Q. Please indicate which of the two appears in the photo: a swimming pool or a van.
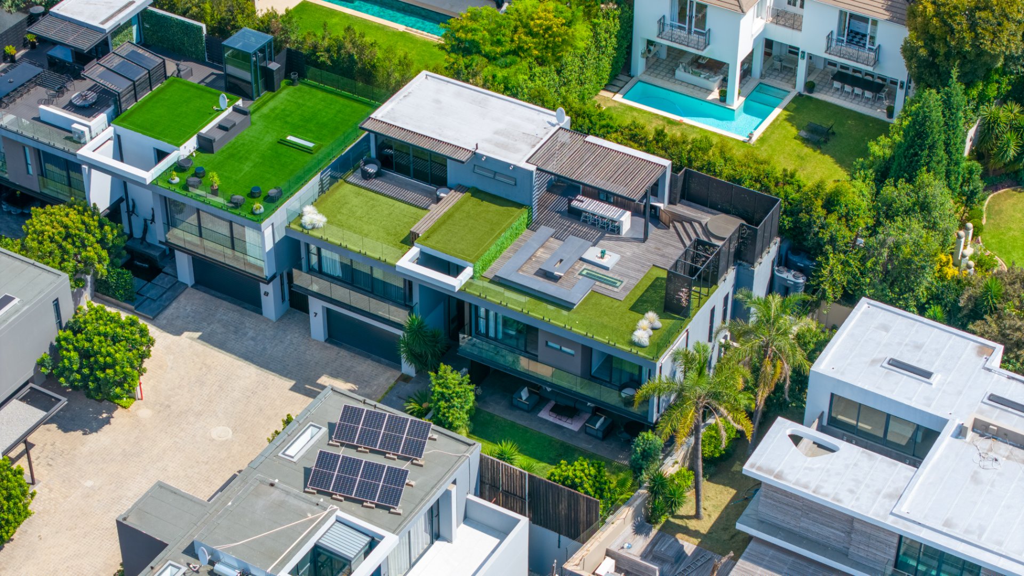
swimming pool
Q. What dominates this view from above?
buildings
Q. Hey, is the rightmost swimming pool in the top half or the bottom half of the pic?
top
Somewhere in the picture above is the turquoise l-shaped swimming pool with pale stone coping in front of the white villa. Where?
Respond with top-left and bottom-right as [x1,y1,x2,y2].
[611,77,798,144]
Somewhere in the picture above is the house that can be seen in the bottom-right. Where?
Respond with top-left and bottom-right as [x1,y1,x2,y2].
[729,299,1024,576]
